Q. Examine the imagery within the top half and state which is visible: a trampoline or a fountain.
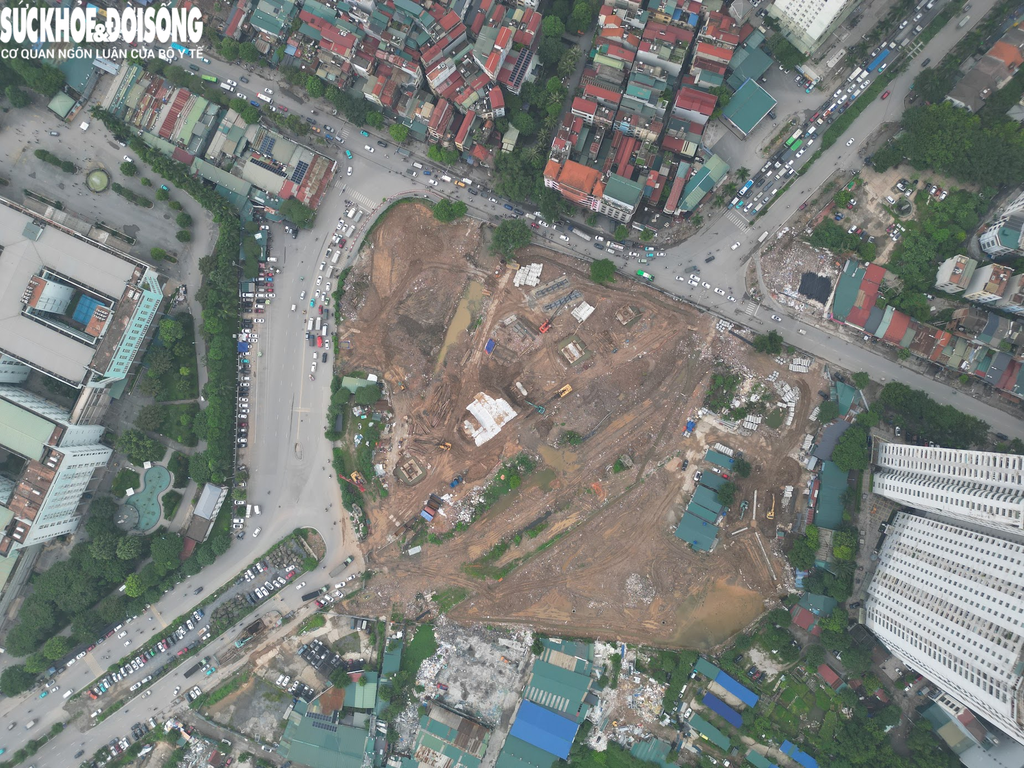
fountain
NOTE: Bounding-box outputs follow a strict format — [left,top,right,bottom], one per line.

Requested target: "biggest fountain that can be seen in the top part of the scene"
[86,168,110,192]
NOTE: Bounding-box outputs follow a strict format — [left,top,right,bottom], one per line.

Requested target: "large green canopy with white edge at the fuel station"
[722,76,777,136]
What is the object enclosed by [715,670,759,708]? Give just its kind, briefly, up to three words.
shed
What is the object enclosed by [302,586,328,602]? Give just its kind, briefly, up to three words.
vehicle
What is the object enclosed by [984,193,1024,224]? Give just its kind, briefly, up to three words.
house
